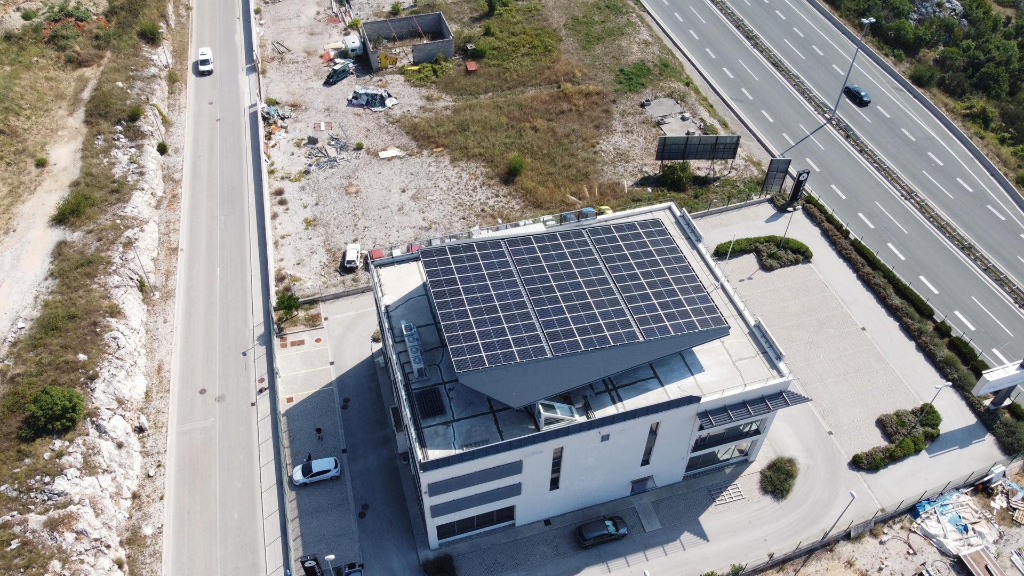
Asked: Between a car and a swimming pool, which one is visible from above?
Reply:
car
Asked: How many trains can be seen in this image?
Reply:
none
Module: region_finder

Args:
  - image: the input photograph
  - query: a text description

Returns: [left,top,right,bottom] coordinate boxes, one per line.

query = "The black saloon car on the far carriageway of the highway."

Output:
[844,89,870,108]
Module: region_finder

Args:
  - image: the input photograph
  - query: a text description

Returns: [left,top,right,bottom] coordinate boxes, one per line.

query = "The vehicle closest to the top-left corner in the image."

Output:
[196,47,215,75]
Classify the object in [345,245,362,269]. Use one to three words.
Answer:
car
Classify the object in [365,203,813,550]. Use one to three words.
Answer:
building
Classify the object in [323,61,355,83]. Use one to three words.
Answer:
vehicle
